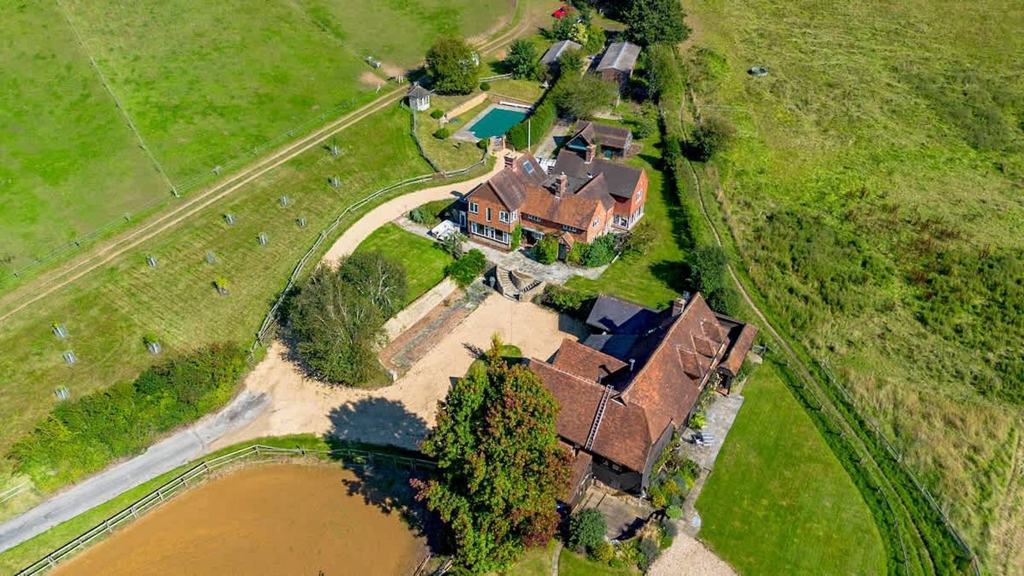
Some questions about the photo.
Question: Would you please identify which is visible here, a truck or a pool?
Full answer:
The one in the frame is a pool.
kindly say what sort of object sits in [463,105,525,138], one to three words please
swimming pool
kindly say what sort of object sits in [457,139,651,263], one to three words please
house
